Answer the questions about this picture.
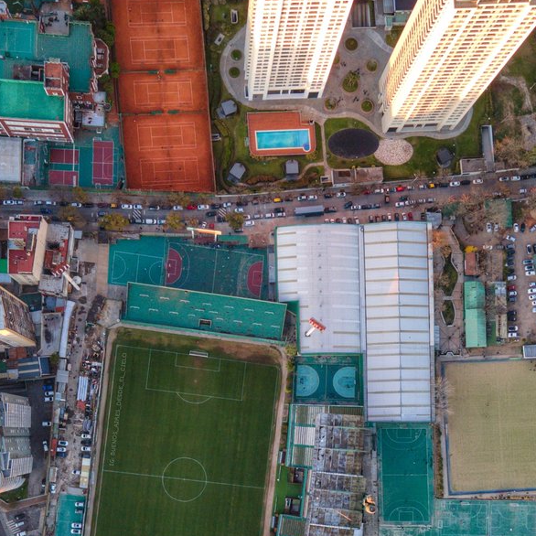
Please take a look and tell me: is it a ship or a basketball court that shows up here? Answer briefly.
basketball court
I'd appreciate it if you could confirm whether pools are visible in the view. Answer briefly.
Yes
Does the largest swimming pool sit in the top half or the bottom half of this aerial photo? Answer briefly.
top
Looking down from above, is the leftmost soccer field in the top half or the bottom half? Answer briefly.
bottom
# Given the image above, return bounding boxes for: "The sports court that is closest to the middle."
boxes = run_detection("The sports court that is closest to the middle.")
[164,236,276,300]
